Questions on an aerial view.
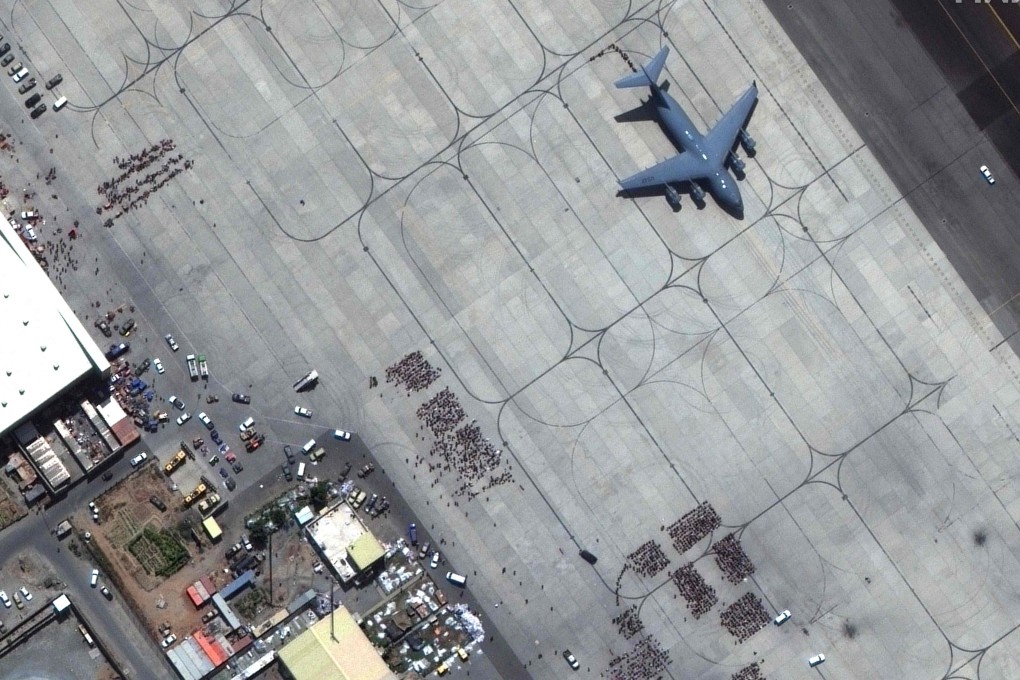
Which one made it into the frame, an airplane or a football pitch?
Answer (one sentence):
I can see an airplane in this picture.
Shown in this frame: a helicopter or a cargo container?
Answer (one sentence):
Of the two, only a cargo container appears.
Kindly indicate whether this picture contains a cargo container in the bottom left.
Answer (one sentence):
Yes, a cargo container appears in the bottom left.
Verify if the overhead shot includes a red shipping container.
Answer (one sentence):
Yes, there's a red shipping container here.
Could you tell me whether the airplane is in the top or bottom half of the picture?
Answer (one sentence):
The top half of the photo is where the airplane is.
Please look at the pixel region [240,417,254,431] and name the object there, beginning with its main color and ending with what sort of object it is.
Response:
white vehicle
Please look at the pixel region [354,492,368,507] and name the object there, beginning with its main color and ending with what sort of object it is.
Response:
white vehicle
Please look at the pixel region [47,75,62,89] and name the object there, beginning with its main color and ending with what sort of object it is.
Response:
gray vehicle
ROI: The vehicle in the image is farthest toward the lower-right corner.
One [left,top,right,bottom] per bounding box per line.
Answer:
[809,653,826,666]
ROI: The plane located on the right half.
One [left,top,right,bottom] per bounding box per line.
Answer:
[614,45,758,210]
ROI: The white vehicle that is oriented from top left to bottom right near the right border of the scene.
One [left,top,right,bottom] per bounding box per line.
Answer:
[981,166,994,183]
